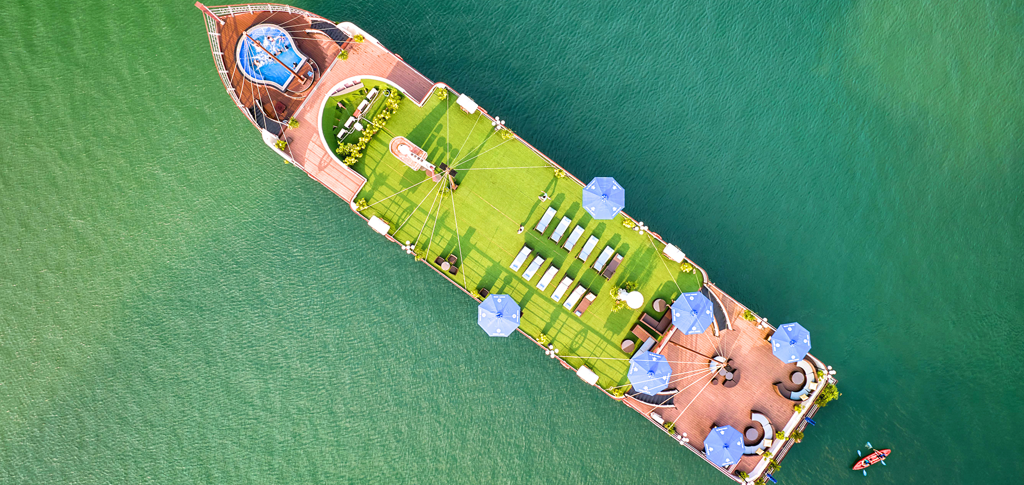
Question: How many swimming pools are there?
one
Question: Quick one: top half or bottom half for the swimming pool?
top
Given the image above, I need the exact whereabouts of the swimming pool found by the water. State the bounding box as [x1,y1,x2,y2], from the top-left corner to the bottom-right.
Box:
[235,22,320,99]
